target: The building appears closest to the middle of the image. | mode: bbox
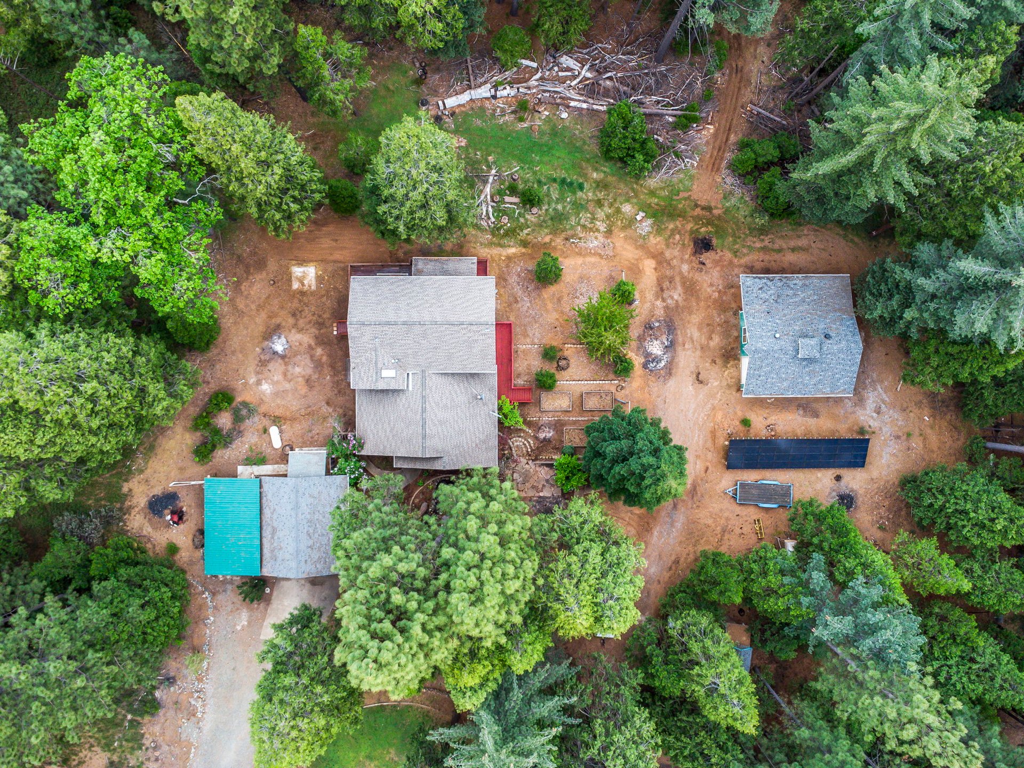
[346,258,501,470]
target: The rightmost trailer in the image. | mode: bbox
[726,480,794,510]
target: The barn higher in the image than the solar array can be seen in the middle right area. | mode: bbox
[738,274,866,398]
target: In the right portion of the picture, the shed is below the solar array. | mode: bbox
[726,624,753,675]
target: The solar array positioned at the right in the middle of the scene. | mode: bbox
[727,437,870,470]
